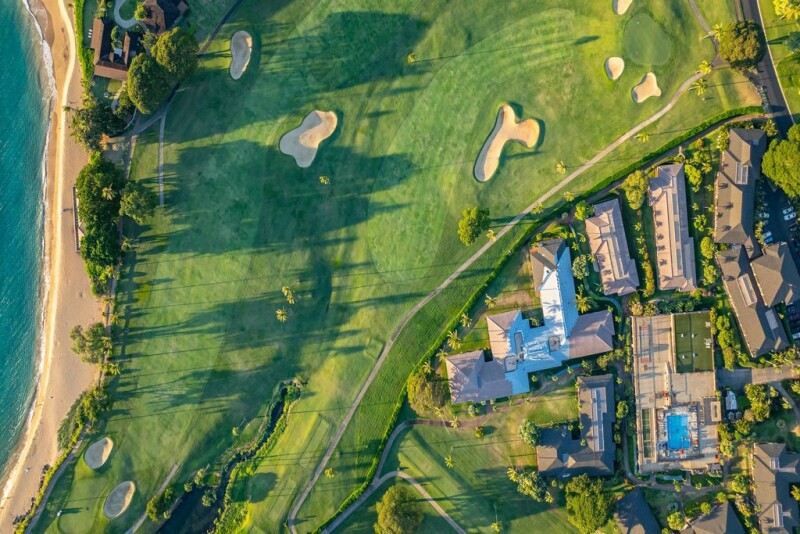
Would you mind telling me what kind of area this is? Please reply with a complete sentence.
It's a golf course.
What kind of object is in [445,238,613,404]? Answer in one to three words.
building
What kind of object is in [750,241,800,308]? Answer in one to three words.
building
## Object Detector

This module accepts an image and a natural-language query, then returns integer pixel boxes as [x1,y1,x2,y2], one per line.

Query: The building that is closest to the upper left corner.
[90,17,141,82]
